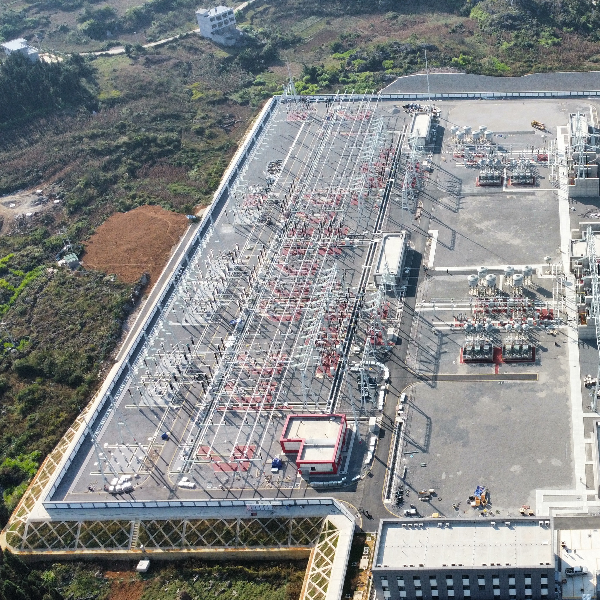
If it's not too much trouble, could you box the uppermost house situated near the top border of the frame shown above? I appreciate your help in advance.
[192,8,235,42]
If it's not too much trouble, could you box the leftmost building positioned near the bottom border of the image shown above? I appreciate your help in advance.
[373,517,555,600]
